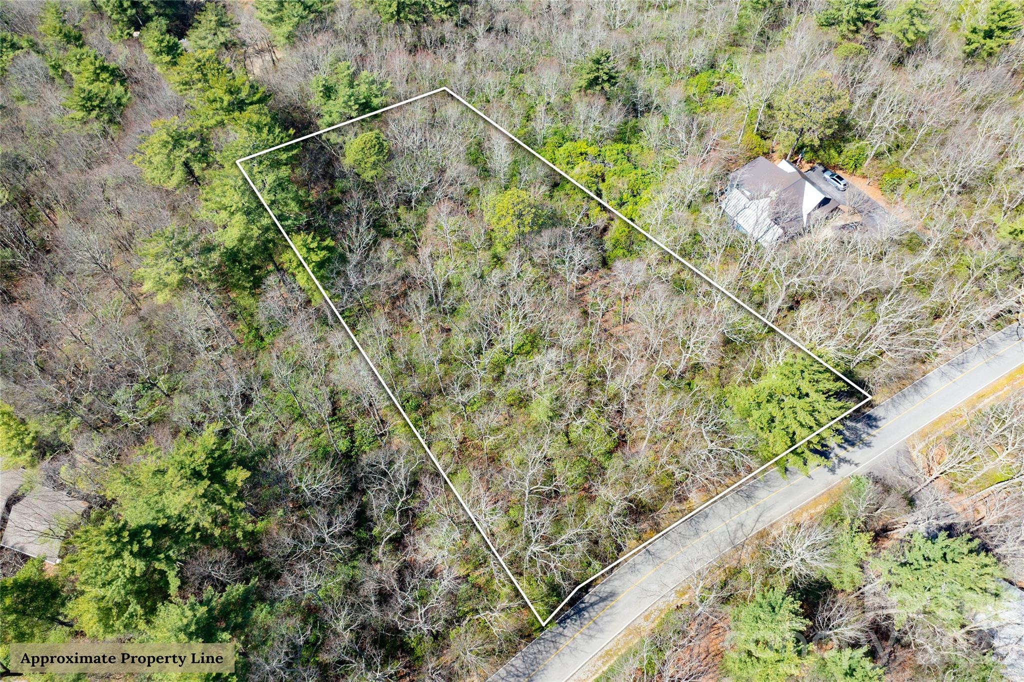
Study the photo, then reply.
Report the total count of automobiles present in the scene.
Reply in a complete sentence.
Just 1 automobile appears in this view.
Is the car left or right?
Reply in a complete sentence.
You can find the car on the right side of the picture.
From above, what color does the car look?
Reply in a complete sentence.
From above, the car appears white.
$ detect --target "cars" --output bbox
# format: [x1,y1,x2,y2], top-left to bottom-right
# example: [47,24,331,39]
[822,171,851,192]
